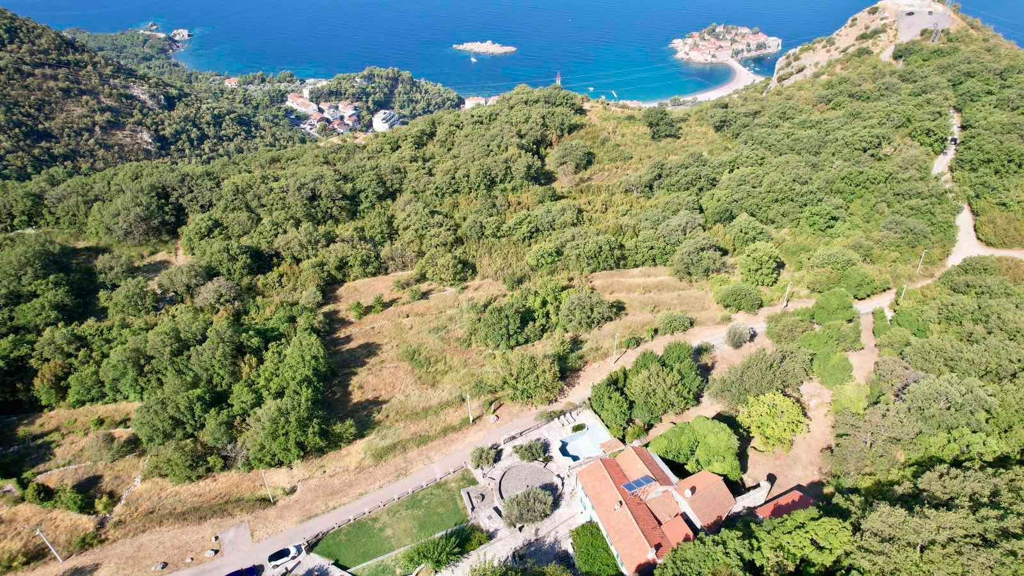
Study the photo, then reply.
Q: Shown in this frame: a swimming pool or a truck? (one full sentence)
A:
Looking from above, you can make out a swimming pool.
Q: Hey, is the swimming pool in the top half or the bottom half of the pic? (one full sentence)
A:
The swimming pool sits in the bottom half of the picture.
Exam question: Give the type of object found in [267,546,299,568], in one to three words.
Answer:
car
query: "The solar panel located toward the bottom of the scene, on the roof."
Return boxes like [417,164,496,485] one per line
[621,475,656,499]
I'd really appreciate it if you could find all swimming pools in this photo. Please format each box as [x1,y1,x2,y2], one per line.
[557,416,613,463]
